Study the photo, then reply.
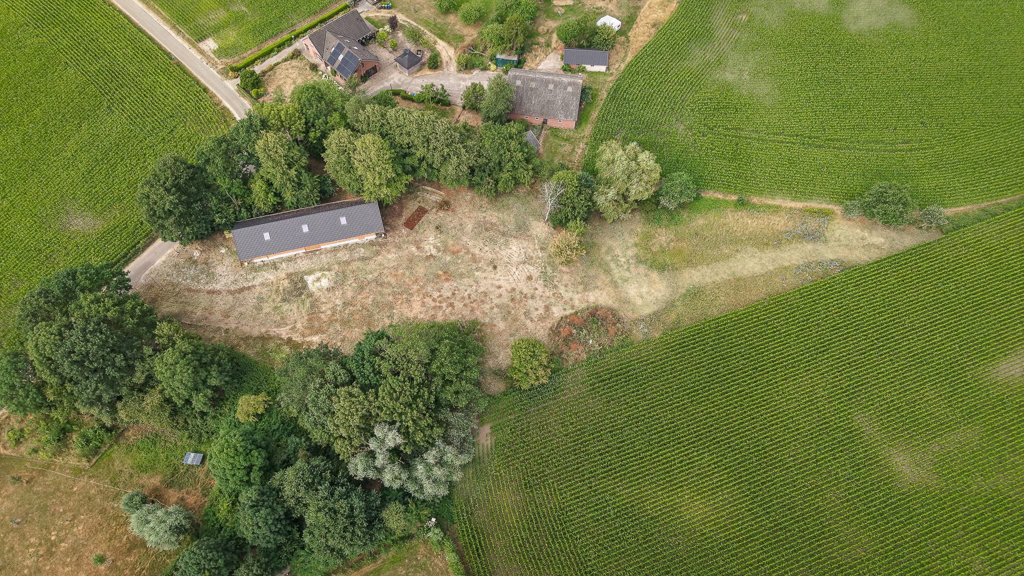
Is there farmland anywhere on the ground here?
Yes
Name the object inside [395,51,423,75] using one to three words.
building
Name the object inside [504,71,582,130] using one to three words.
barn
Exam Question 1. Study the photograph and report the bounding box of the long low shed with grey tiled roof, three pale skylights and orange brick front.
[232,194,385,268]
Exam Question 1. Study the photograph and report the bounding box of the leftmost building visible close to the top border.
[300,10,380,87]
